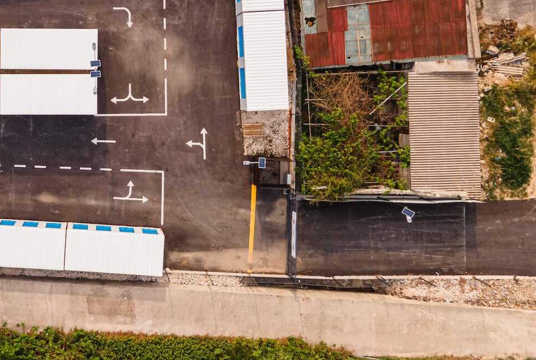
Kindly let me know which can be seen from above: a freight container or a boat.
freight container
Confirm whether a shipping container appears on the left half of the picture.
Yes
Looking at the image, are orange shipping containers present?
No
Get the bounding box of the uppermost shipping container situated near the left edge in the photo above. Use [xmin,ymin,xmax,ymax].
[0,29,97,69]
